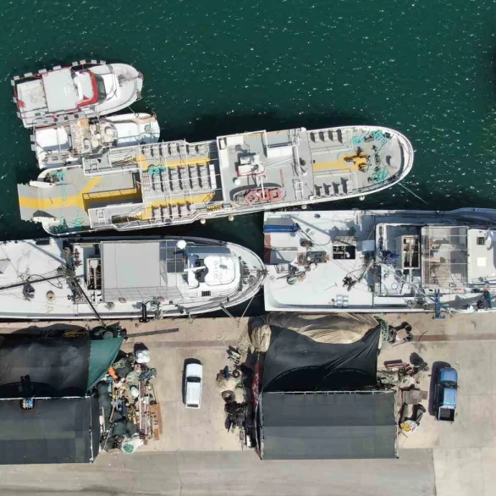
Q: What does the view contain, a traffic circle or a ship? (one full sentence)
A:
The one in the frame is a ship.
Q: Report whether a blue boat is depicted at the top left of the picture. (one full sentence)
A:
No, the scene shows no blue boat at the top left of the picture.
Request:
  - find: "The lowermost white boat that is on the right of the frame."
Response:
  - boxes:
[263,207,496,320]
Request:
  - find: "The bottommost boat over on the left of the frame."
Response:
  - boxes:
[0,237,270,325]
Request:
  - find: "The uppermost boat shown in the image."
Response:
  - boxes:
[11,60,143,130]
